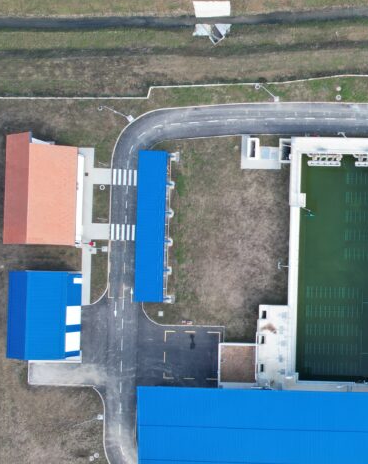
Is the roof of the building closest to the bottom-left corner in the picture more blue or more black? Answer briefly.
blue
